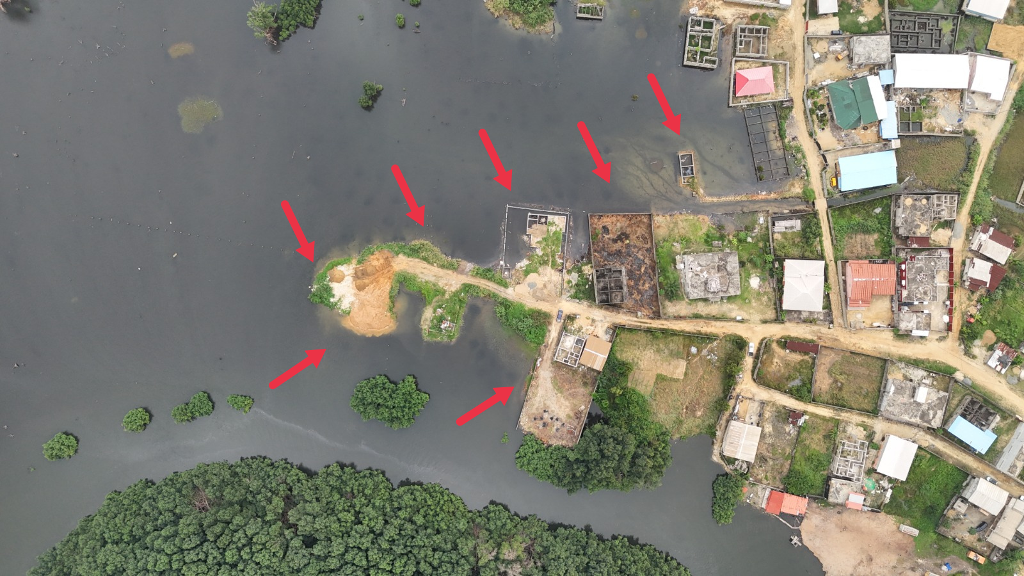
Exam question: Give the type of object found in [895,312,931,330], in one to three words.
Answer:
house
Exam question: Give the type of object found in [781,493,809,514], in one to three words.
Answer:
shed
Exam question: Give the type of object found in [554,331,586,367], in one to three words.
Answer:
house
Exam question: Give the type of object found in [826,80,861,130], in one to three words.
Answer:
building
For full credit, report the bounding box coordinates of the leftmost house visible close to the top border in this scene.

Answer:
[576,4,603,19]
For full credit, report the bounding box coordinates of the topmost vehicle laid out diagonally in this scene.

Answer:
[834,47,850,61]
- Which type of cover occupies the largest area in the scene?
water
